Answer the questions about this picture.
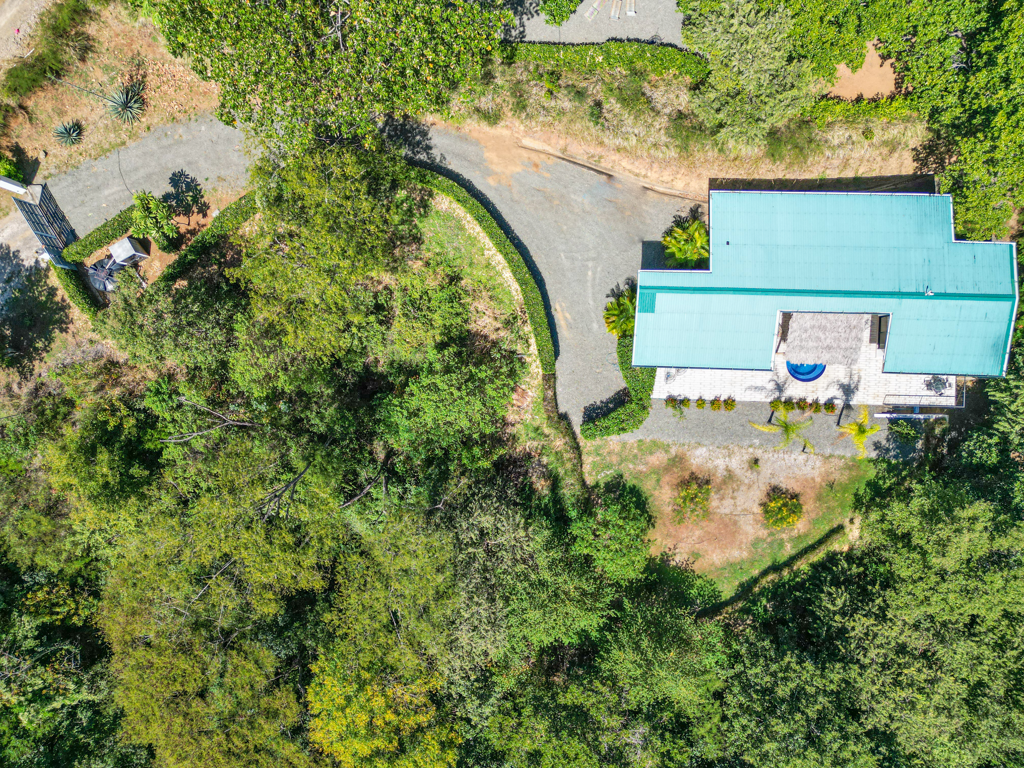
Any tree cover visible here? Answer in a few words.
Yes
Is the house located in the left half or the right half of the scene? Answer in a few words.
right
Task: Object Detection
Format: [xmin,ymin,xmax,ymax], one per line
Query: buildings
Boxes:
[629,188,1022,380]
